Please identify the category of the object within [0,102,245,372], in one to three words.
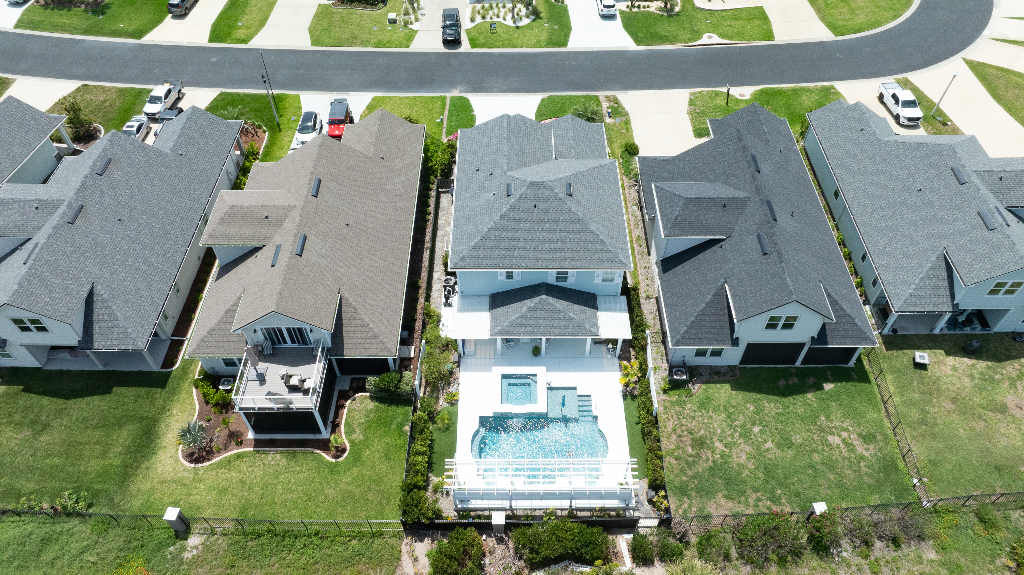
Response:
house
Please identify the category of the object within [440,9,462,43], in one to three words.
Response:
truck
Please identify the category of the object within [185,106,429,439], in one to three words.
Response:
house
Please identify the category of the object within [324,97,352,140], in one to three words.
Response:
car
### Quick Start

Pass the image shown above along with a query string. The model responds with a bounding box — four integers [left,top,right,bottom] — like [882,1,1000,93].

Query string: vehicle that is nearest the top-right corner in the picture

[876,82,925,126]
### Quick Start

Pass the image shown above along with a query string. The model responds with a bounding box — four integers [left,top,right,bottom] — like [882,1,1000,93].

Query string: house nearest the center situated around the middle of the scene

[446,115,634,357]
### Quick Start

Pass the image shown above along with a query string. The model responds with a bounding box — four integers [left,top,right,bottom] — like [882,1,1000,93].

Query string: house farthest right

[805,99,1024,334]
